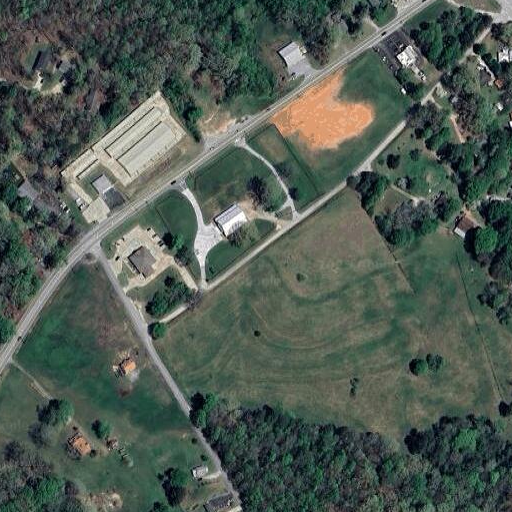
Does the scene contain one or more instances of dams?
No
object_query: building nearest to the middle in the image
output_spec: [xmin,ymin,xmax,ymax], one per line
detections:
[214,204,247,236]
